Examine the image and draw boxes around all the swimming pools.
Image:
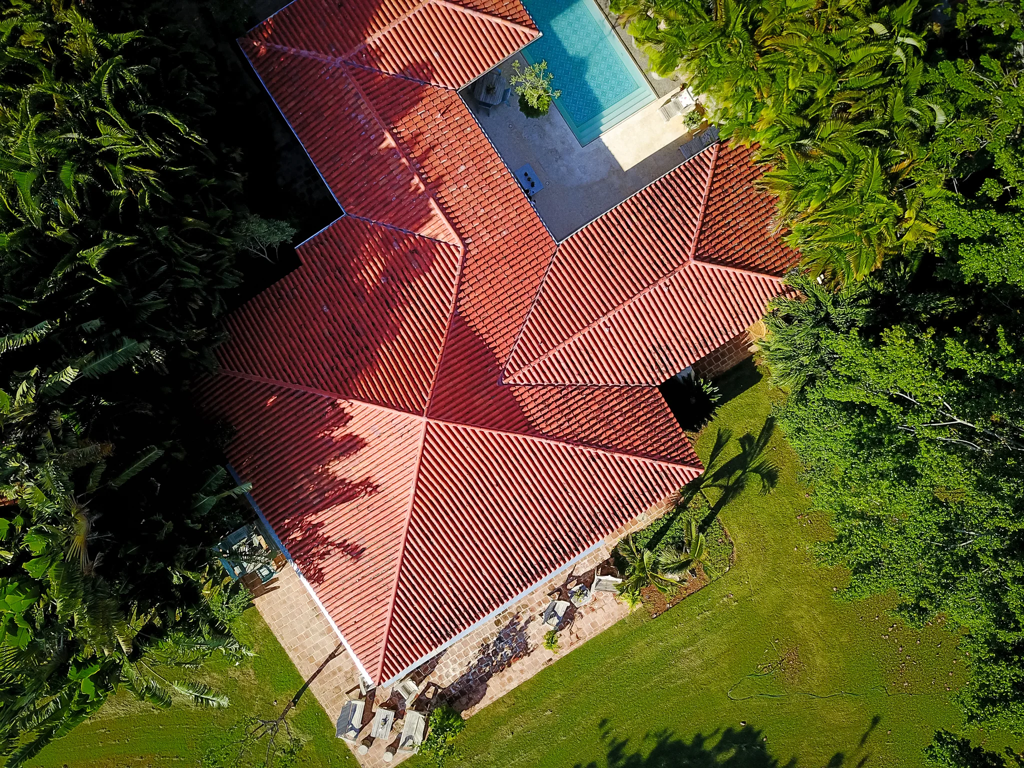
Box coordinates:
[520,0,671,151]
